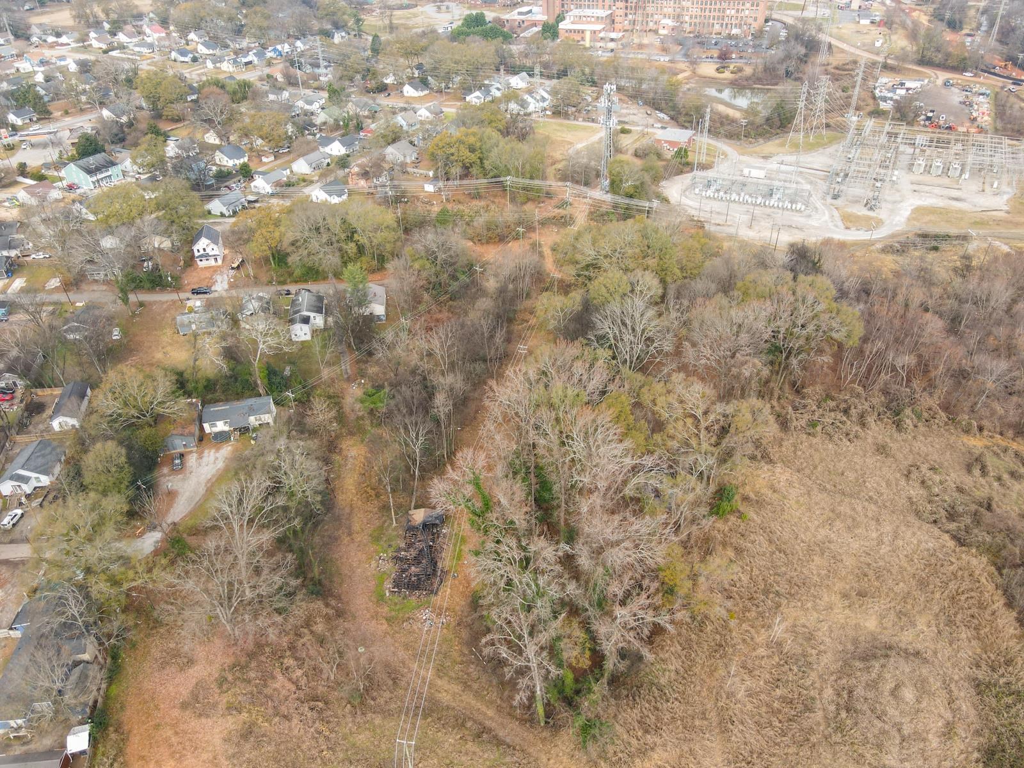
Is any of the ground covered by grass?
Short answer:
Yes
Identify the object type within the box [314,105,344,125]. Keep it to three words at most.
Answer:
house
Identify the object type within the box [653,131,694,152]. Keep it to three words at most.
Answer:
building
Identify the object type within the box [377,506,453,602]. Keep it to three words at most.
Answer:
house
